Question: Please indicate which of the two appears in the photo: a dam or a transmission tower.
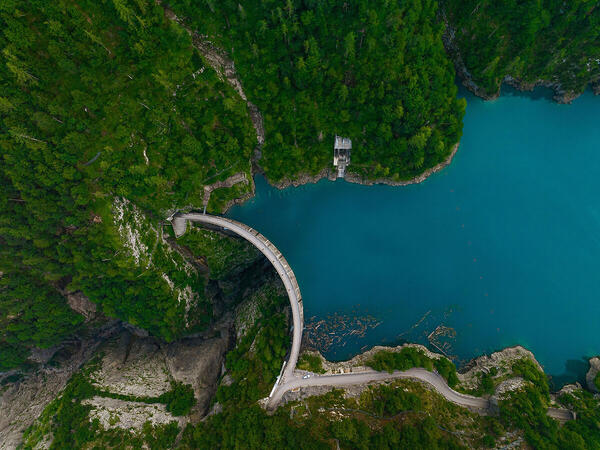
dam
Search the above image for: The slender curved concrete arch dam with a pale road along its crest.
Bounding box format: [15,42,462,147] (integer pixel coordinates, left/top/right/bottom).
[172,212,306,380]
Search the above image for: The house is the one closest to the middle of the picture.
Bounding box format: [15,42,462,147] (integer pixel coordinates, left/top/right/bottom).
[334,137,352,178]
